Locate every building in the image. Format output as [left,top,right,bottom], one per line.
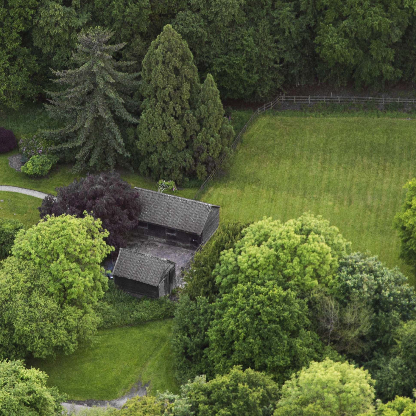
[129,187,220,243]
[112,252,176,296]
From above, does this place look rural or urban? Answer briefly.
rural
